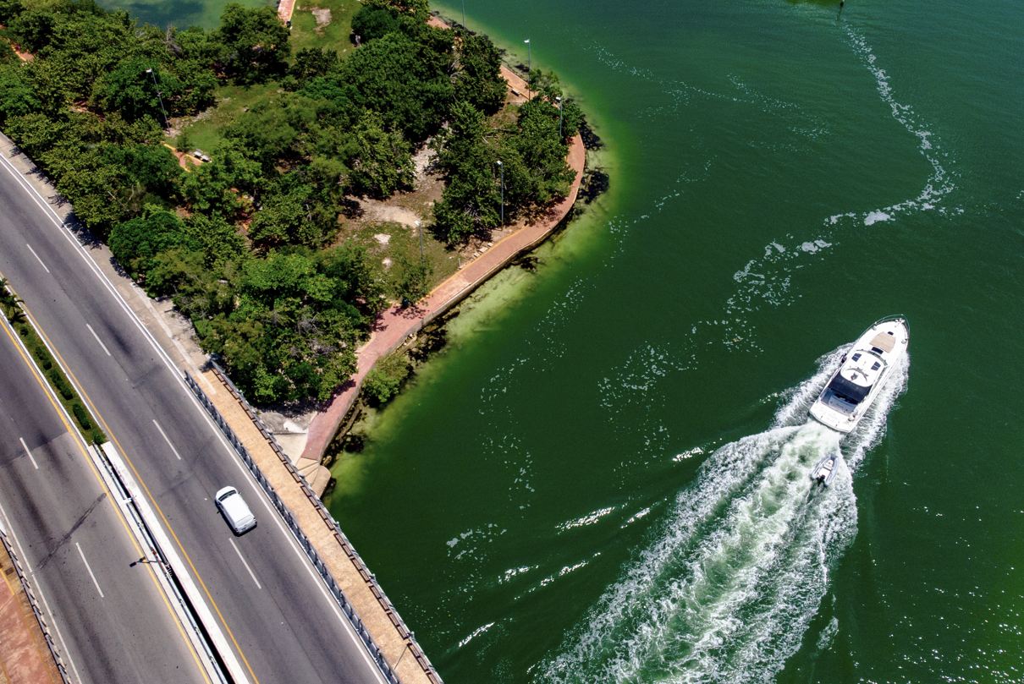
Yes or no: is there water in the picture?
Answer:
Yes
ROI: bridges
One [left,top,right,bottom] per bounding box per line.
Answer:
[0,371,446,684]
